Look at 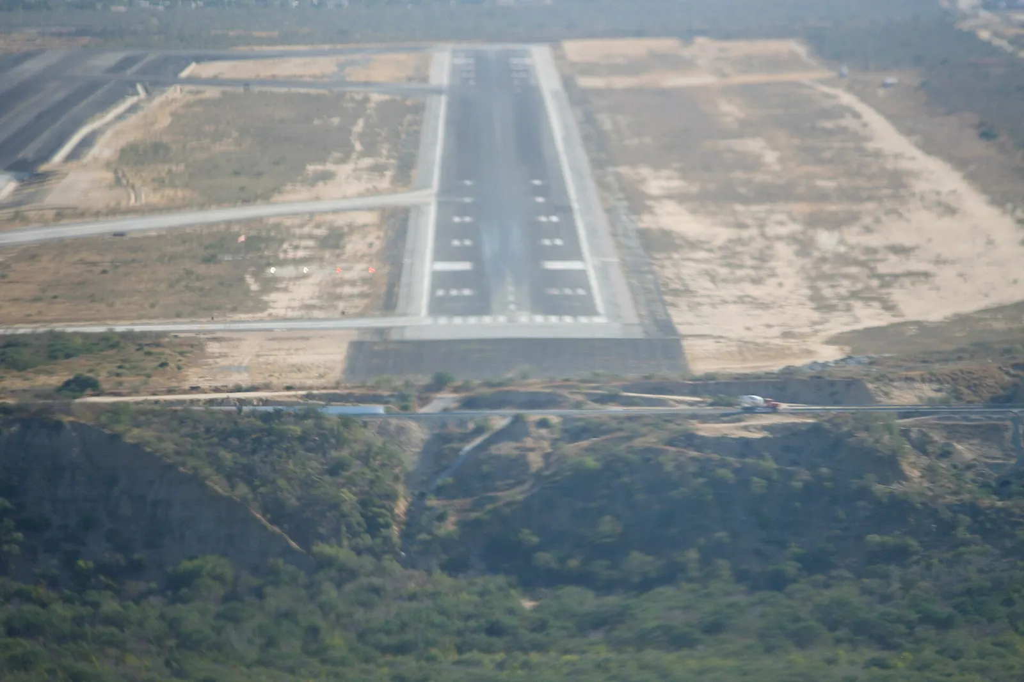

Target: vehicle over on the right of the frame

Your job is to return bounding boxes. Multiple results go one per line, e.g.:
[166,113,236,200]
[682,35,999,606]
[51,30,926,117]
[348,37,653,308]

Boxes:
[738,394,781,410]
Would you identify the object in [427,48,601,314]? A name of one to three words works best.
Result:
runway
